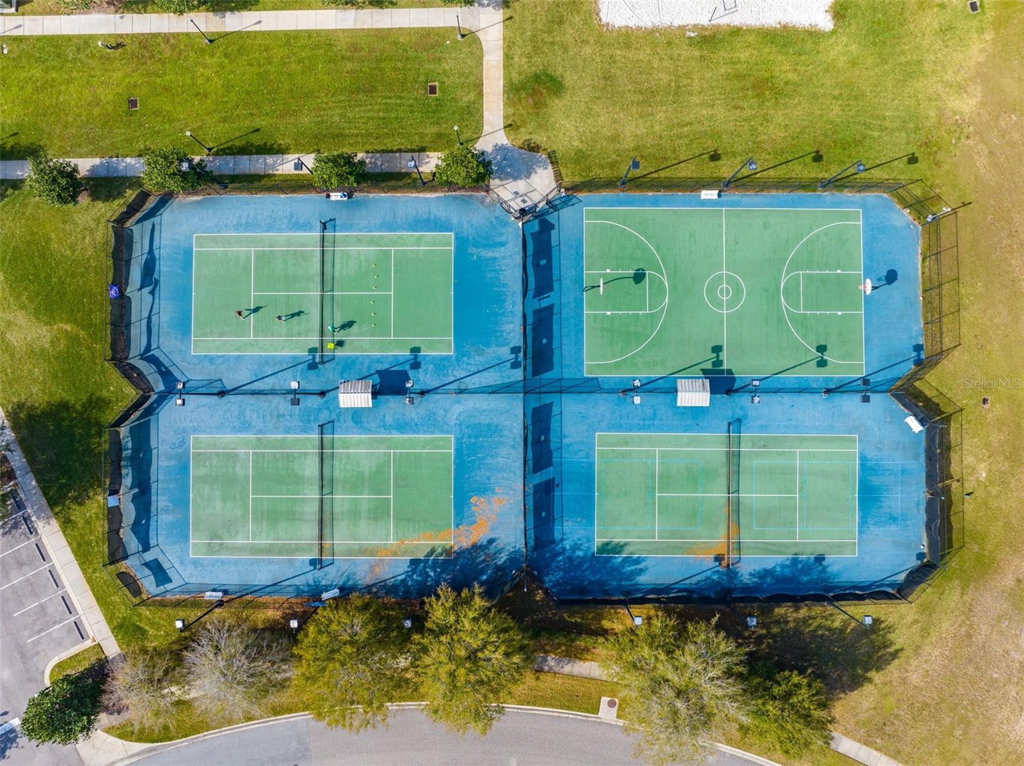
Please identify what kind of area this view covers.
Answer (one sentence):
What you see here is a sports ground.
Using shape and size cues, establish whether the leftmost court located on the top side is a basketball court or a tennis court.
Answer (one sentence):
The leftmost court located on the top side can be classified as a tennis court.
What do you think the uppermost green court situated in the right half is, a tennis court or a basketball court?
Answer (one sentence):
The uppermost green court situated in the right half can be classified as a basketball court.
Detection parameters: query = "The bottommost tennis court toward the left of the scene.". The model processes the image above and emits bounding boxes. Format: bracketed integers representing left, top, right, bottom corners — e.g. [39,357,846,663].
[121,393,524,599]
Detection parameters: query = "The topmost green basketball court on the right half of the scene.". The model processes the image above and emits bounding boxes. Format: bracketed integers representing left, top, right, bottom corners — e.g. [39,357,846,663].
[523,193,924,392]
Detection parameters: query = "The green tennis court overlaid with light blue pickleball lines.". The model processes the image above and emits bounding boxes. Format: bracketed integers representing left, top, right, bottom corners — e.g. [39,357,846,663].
[524,393,928,599]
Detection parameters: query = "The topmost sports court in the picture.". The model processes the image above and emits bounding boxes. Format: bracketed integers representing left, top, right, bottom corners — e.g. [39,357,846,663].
[600,0,834,31]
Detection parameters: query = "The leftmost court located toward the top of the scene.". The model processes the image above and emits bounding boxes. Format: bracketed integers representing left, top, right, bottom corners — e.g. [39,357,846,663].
[125,193,524,393]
